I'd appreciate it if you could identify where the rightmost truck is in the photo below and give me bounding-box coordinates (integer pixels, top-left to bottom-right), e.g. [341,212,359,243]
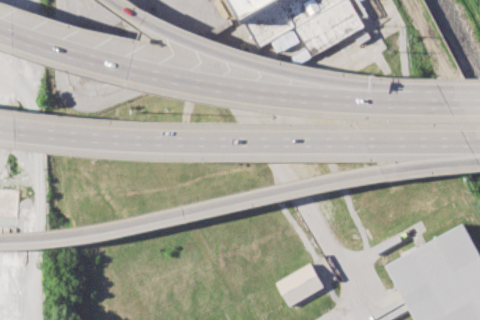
[376,235,408,258]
